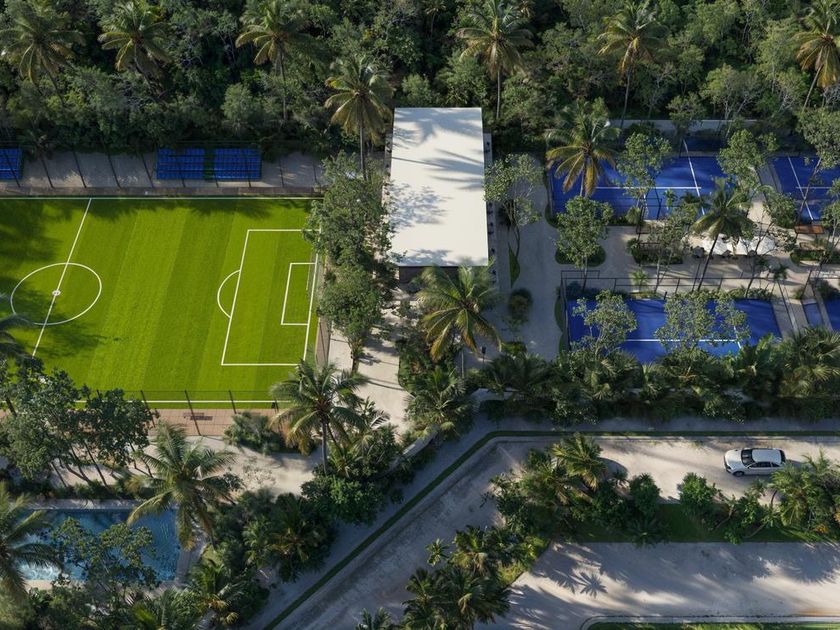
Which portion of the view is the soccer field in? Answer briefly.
left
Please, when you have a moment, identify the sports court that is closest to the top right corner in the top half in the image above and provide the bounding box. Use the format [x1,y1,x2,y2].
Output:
[754,127,840,221]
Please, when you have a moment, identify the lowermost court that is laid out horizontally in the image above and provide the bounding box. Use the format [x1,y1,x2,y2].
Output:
[563,269,803,380]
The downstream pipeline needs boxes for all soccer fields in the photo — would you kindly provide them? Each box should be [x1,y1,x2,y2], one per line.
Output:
[0,186,336,435]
